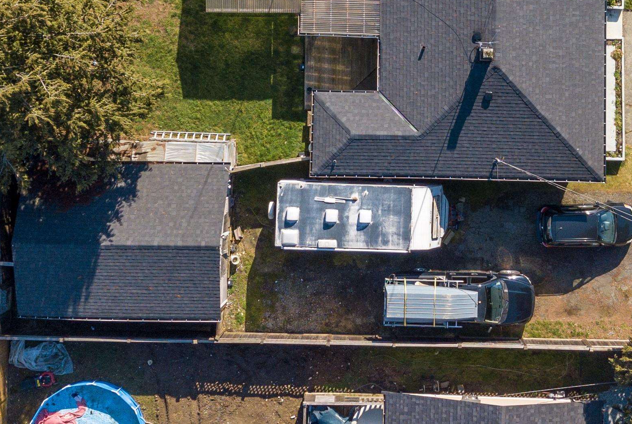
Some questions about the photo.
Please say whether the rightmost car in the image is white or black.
black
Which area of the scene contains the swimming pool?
bottom left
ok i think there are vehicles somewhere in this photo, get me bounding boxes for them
[537,200,632,251]
[384,272,536,330]
[268,179,451,254]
